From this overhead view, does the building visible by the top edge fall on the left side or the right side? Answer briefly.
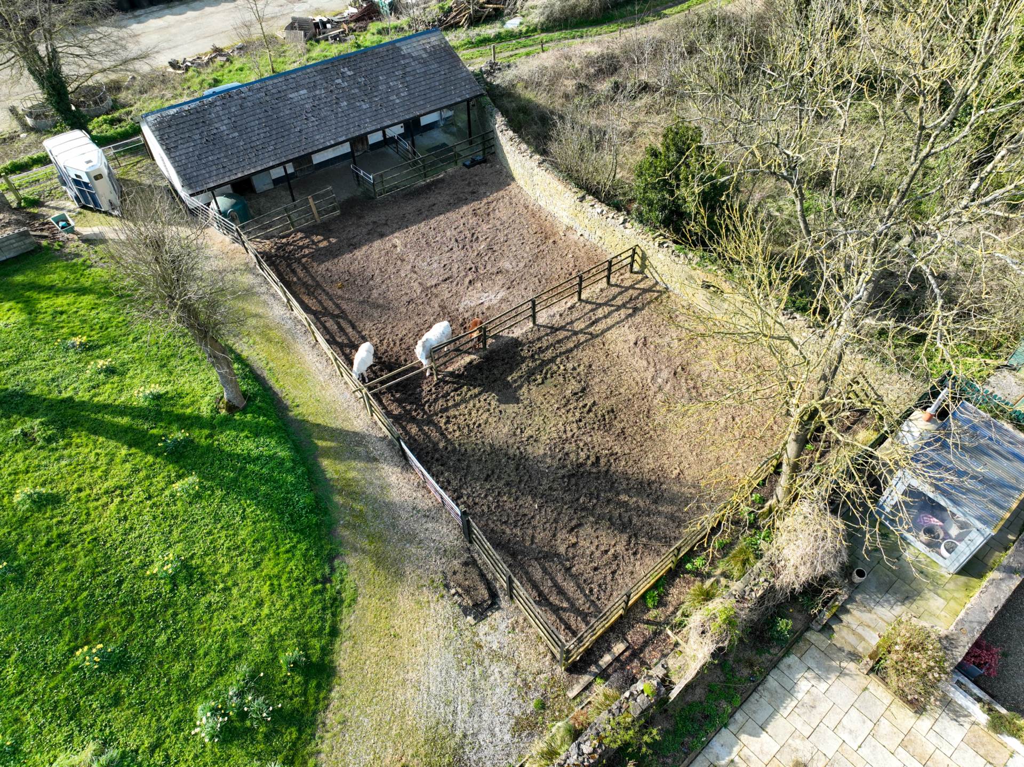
left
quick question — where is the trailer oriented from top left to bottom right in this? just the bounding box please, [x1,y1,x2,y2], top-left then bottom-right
[46,130,129,219]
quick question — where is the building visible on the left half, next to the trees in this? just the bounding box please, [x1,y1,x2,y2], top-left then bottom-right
[129,22,482,236]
